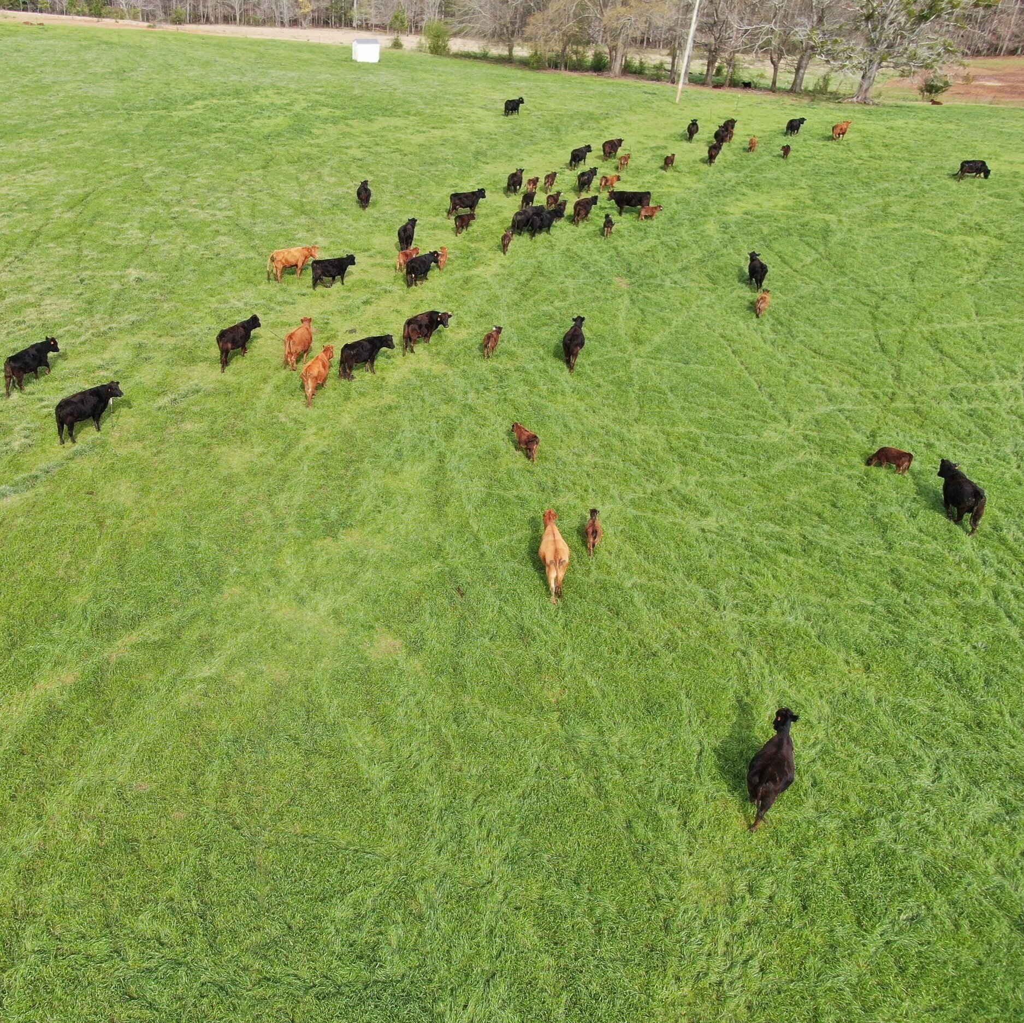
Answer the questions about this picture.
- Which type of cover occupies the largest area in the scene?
grass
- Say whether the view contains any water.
No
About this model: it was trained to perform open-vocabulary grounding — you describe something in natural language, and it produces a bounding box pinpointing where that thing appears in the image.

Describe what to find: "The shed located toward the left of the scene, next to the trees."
[349,35,379,62]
